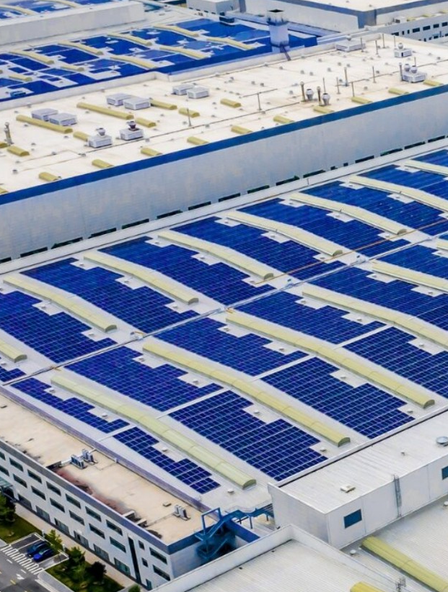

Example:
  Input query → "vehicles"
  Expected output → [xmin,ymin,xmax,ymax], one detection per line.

[25,537,48,551]
[32,544,55,559]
